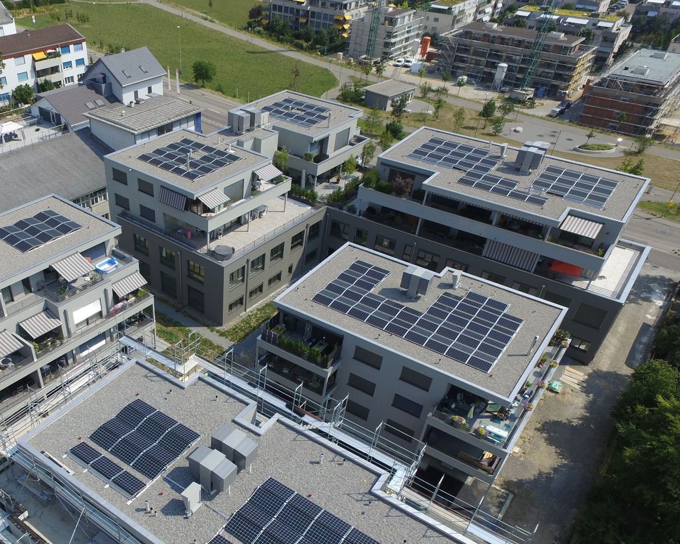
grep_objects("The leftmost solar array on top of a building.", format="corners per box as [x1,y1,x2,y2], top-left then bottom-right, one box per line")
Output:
[0,210,84,254]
